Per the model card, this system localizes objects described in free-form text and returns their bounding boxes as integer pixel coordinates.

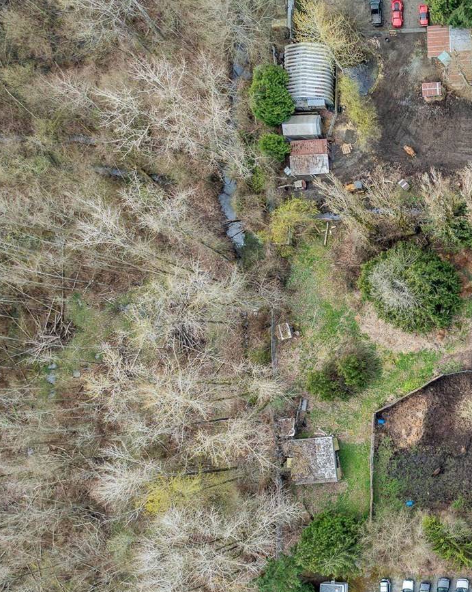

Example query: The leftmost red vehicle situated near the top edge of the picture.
[391,0,405,29]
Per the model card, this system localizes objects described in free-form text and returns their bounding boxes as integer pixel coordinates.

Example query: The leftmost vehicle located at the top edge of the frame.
[369,0,384,29]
